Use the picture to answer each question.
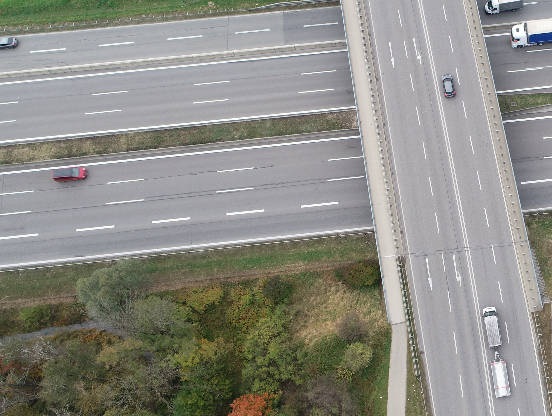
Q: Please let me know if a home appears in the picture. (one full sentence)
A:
No, no home is visible in the scene.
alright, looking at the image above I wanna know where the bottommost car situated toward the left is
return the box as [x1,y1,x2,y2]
[51,165,85,181]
